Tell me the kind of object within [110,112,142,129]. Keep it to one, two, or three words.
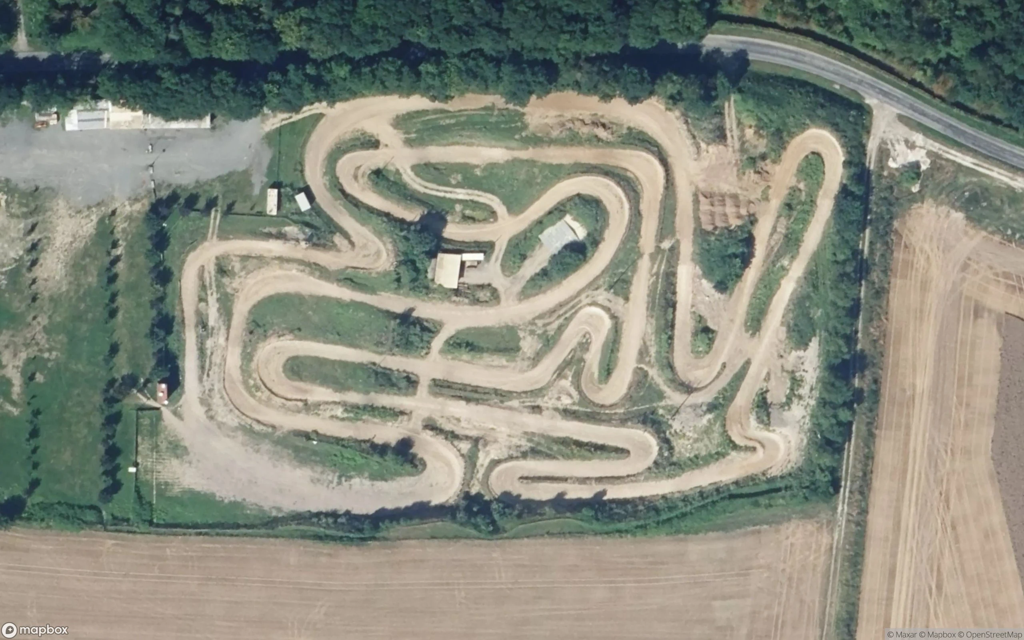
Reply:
barn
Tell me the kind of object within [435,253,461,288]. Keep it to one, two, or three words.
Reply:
building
